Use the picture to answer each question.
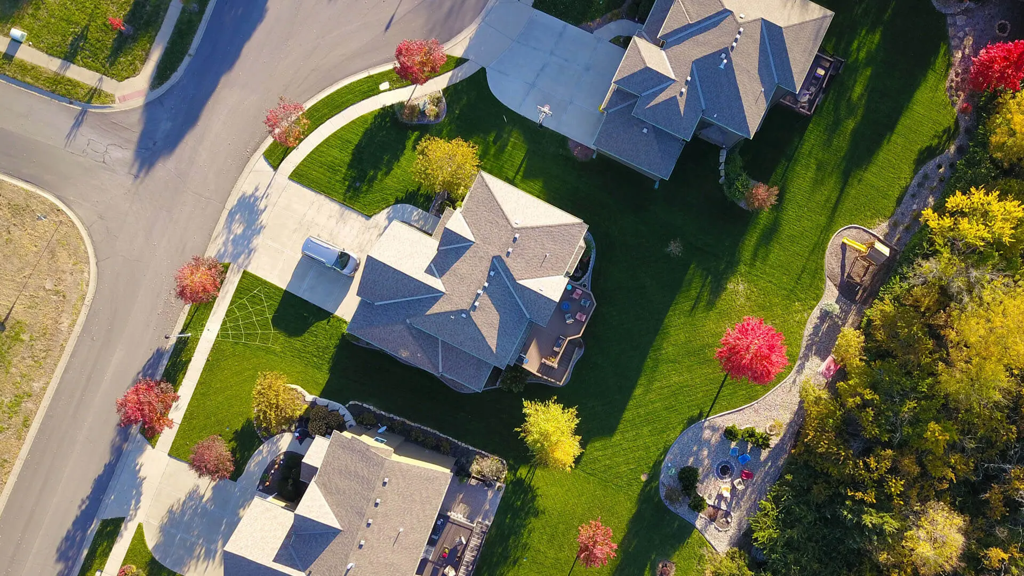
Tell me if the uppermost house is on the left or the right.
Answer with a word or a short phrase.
right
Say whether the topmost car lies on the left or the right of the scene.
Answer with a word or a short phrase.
left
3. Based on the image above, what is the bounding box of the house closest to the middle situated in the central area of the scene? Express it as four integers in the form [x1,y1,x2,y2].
[346,171,588,393]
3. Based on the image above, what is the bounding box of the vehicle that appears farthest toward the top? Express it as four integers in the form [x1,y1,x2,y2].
[298,236,359,275]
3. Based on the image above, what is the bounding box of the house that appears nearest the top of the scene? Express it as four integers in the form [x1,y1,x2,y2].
[593,0,835,180]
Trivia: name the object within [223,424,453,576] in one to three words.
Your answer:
house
